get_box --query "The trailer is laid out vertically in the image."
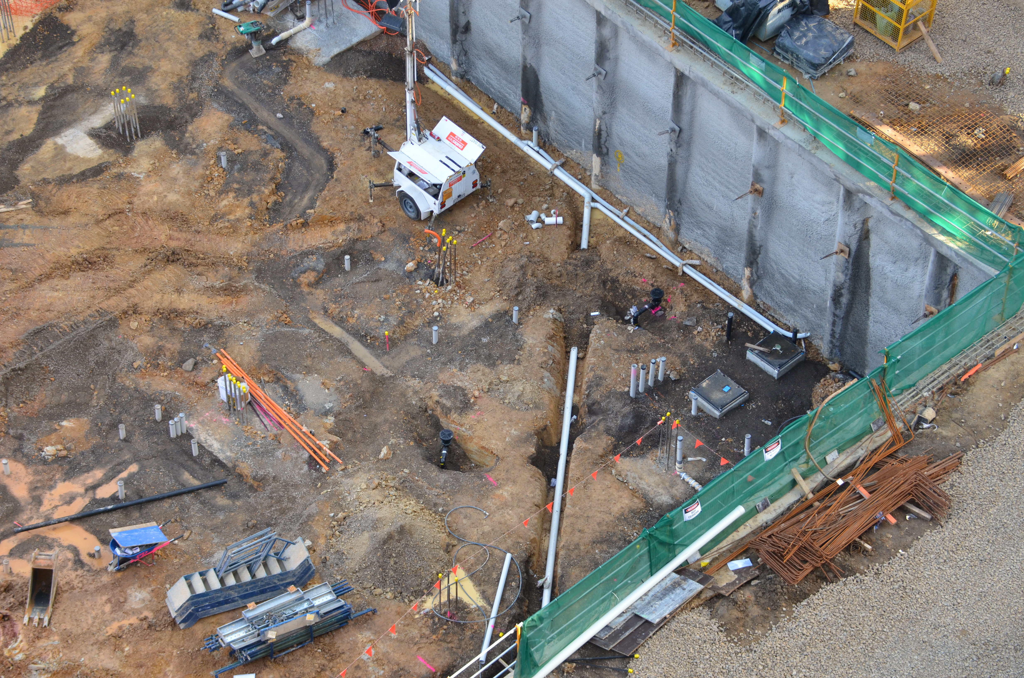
[365,0,496,251]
